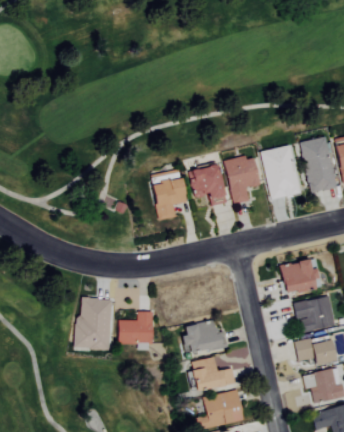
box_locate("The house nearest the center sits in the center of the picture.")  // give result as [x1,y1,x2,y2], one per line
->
[150,168,188,221]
